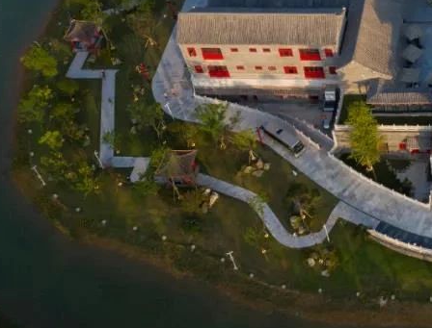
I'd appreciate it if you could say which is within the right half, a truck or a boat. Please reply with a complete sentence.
It is a truck that can be seen within the right half.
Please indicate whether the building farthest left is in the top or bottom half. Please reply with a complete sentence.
You can find the building farthest left in the top half.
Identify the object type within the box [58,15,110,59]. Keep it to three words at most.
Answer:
building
